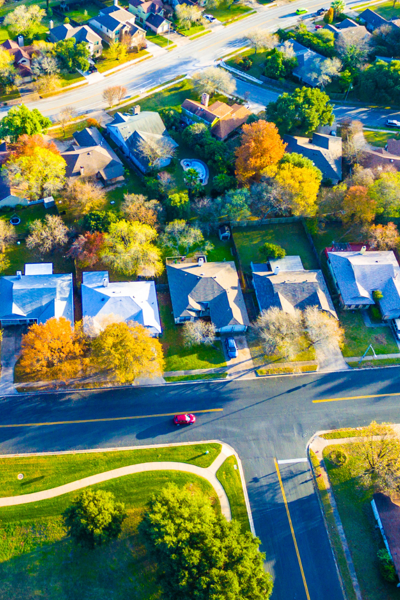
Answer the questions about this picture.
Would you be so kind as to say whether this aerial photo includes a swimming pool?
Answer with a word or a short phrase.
Yes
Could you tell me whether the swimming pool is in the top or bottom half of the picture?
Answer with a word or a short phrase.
top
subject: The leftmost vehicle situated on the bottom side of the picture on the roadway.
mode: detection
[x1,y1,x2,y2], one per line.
[173,412,195,426]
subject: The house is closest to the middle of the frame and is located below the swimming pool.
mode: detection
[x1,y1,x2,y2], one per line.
[167,257,249,334]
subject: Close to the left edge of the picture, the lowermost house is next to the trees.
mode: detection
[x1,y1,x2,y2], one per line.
[0,262,75,330]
